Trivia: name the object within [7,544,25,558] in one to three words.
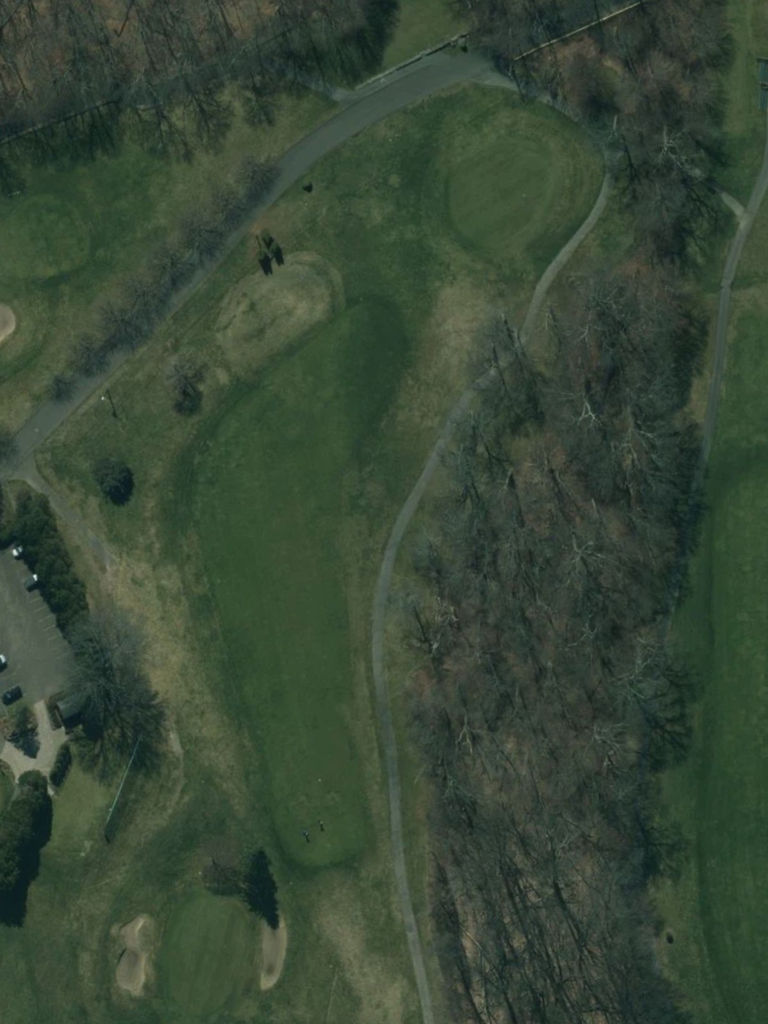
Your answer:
car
